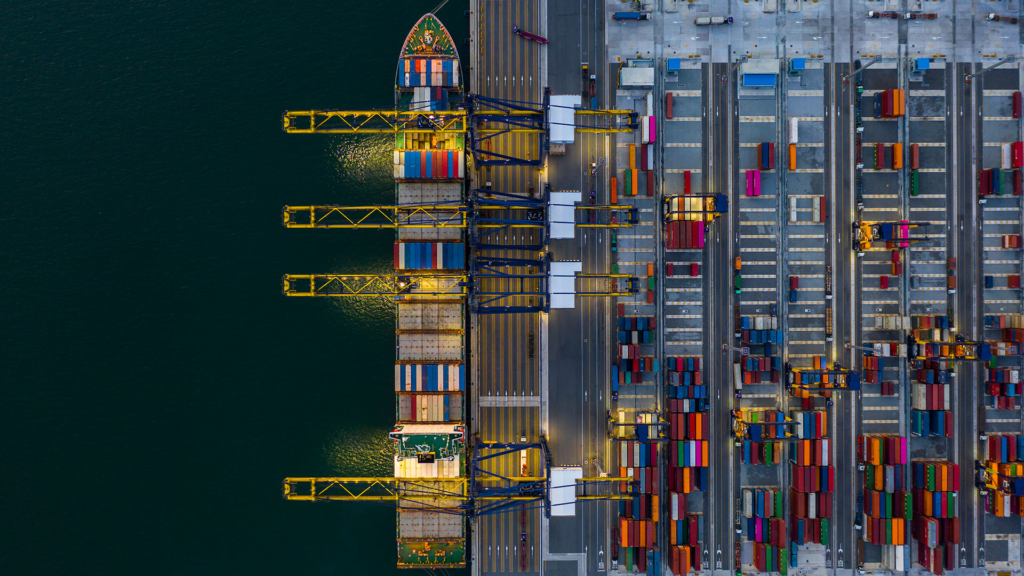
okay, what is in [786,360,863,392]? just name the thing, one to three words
crane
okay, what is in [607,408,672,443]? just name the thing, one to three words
crane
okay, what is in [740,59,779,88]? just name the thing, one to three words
building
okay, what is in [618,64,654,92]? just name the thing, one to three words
building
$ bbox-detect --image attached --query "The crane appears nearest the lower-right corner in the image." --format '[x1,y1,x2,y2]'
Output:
[977,458,1024,496]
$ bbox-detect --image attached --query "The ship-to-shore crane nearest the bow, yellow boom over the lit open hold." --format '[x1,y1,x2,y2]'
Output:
[279,88,639,178]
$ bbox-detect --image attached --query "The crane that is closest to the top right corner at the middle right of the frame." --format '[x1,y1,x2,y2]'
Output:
[853,219,934,251]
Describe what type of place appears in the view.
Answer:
port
